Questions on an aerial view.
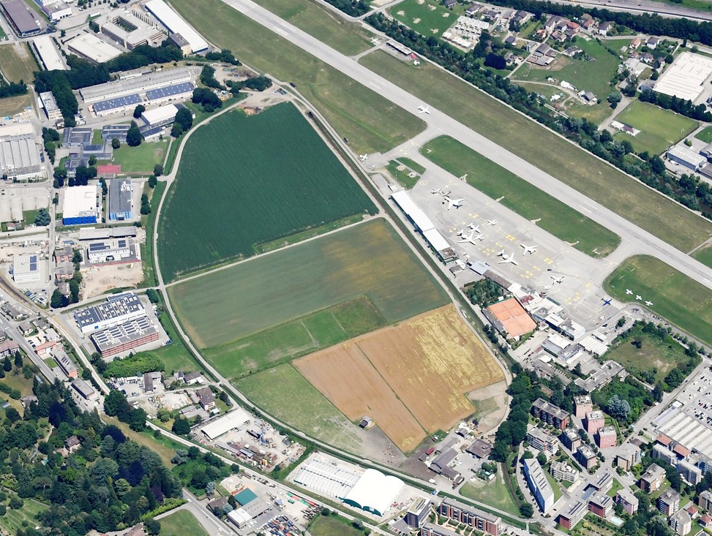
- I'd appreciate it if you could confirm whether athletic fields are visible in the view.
Yes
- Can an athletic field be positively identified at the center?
No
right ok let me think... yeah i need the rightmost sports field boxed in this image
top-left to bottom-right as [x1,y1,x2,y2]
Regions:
[611,99,698,155]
